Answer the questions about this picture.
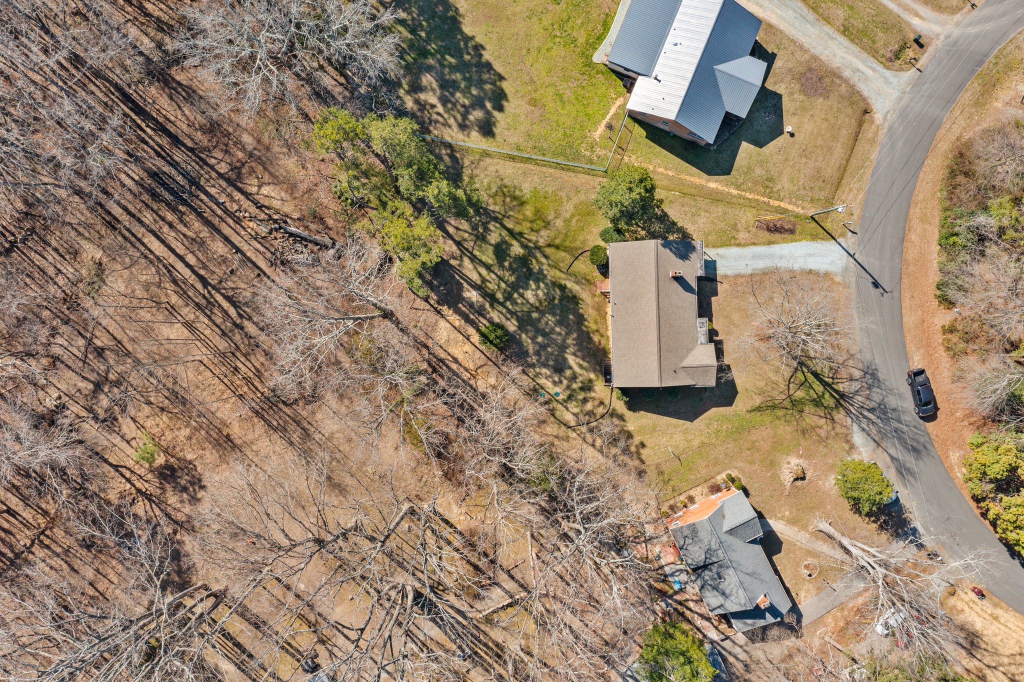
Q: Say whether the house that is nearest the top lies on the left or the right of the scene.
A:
right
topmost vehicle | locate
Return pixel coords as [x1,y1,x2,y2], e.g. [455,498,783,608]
[907,367,938,422]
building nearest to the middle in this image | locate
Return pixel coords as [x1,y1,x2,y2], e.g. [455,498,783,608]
[608,240,717,388]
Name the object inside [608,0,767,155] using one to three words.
house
